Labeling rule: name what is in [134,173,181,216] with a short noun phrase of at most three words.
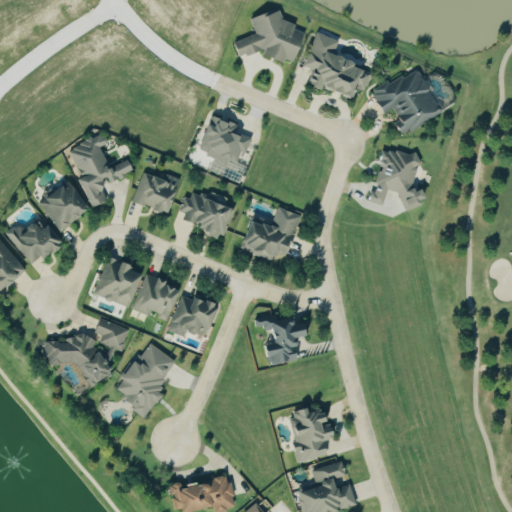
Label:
house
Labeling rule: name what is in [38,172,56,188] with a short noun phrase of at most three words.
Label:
swimming pool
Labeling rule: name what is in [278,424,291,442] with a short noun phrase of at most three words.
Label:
swimming pool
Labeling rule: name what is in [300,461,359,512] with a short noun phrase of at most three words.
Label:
house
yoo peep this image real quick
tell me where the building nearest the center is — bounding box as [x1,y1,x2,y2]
[244,207,302,262]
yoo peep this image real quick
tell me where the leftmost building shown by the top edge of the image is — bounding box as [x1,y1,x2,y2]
[235,8,306,62]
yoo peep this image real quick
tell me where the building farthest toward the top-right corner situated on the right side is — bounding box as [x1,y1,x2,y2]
[374,67,446,136]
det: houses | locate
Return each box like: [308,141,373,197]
[132,274,180,320]
[0,237,28,292]
[238,502,274,512]
[4,219,61,265]
[292,408,334,464]
[369,148,428,211]
[235,8,306,62]
[71,134,134,208]
[179,192,233,240]
[202,116,254,164]
[168,294,218,338]
[116,344,174,411]
[300,461,359,512]
[244,207,302,262]
[170,478,236,512]
[374,67,446,136]
[134,173,181,216]
[306,30,372,101]
[94,260,140,308]
[40,182,87,231]
[254,320,308,367]
[42,334,115,392]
